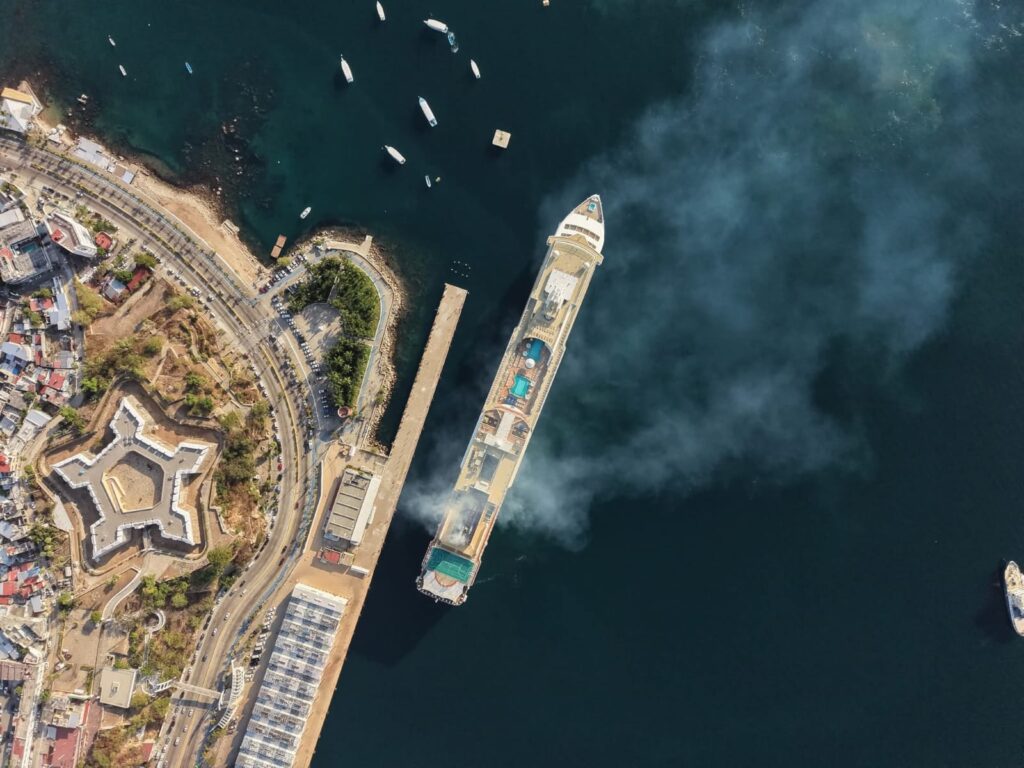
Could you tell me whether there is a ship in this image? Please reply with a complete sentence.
Yes, the photo shows a ship.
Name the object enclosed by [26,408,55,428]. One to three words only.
house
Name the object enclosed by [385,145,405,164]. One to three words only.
boat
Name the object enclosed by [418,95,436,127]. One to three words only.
boat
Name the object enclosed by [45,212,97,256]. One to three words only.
building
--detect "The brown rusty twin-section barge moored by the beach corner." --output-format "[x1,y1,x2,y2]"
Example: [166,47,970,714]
[270,234,288,258]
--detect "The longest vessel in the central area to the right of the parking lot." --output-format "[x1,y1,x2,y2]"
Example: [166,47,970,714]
[417,194,603,603]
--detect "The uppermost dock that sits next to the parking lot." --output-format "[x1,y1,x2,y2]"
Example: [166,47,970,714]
[388,284,467,452]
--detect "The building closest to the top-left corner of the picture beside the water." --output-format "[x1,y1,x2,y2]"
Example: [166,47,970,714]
[0,80,46,134]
